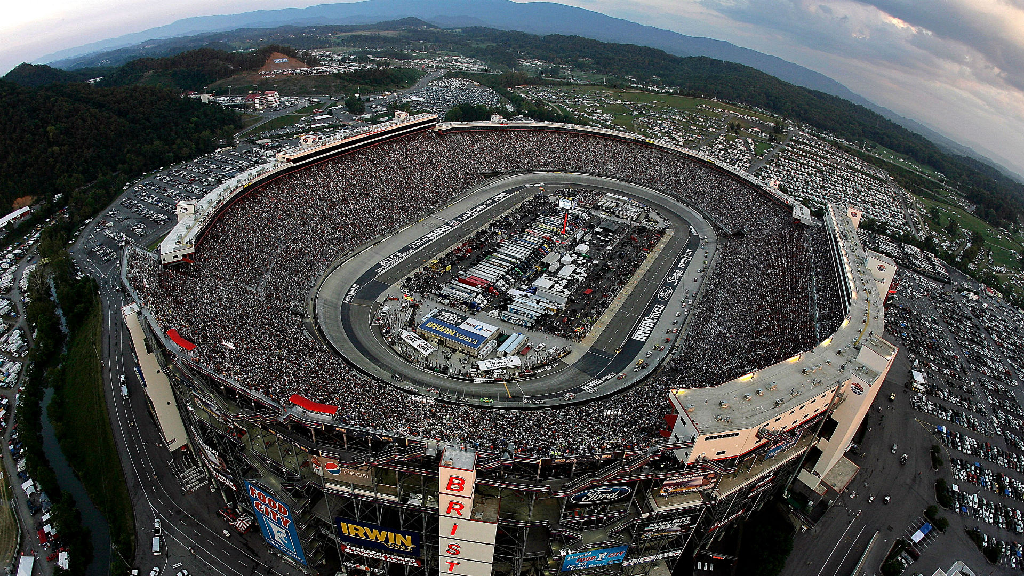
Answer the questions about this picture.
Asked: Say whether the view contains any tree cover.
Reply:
Yes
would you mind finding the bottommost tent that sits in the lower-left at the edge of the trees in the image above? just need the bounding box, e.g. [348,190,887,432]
[16,556,37,576]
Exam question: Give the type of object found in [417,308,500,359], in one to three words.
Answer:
building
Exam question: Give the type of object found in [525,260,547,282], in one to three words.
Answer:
truck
